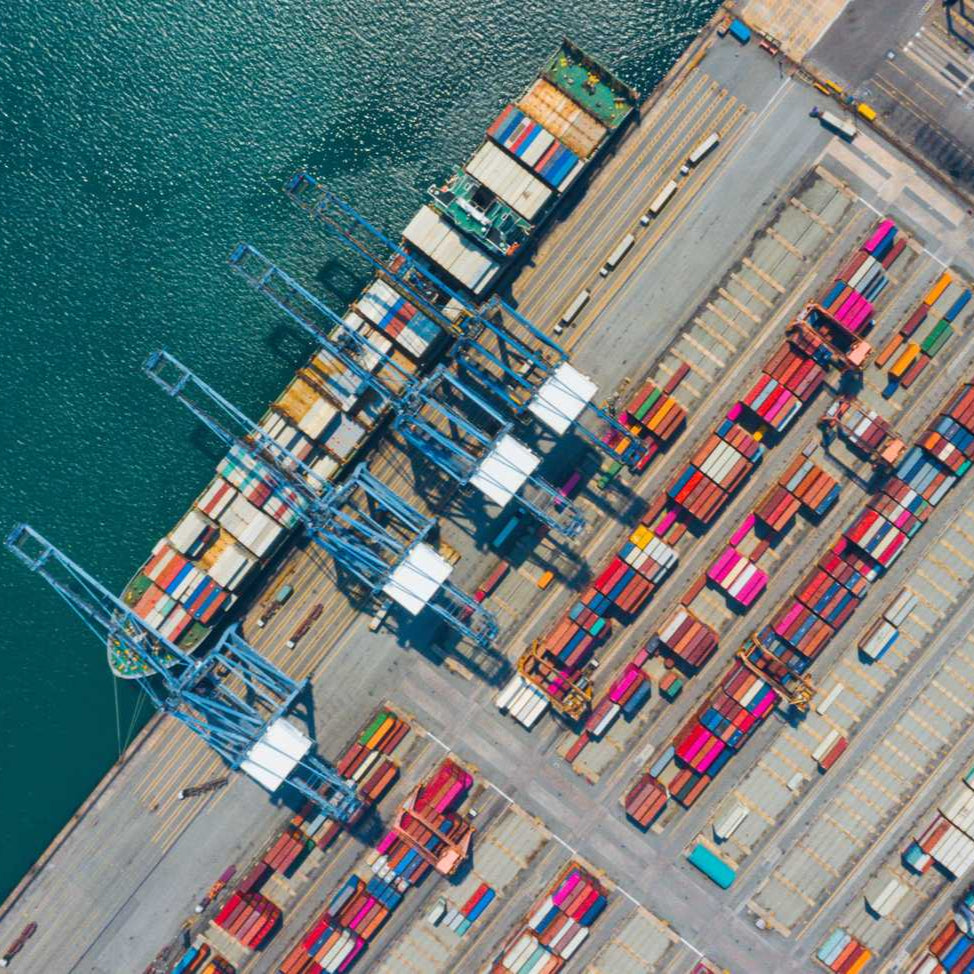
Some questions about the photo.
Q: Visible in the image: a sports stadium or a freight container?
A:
freight container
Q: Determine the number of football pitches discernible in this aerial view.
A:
none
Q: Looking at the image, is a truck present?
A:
Yes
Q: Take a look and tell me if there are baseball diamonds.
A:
No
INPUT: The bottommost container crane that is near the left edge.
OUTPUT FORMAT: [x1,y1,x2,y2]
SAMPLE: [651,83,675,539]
[3,522,373,823]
